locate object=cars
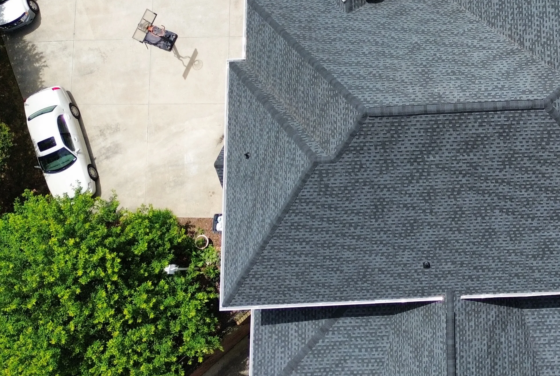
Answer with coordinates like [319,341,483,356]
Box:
[21,88,98,207]
[0,0,38,36]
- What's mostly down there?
buildings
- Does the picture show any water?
No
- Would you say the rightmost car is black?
No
